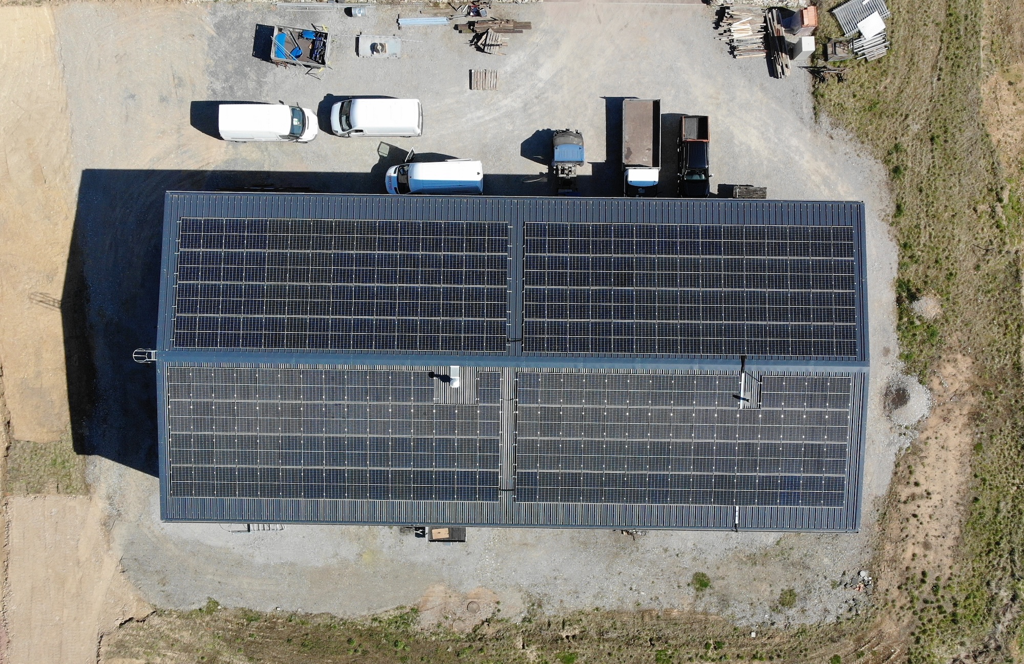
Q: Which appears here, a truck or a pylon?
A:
truck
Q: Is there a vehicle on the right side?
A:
Yes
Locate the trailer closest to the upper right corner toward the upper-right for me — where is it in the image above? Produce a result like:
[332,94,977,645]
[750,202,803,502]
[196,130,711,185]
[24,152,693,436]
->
[815,35,858,64]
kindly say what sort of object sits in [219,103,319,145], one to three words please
van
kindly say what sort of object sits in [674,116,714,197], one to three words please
truck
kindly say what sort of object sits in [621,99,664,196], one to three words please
truck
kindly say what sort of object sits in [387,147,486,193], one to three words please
van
